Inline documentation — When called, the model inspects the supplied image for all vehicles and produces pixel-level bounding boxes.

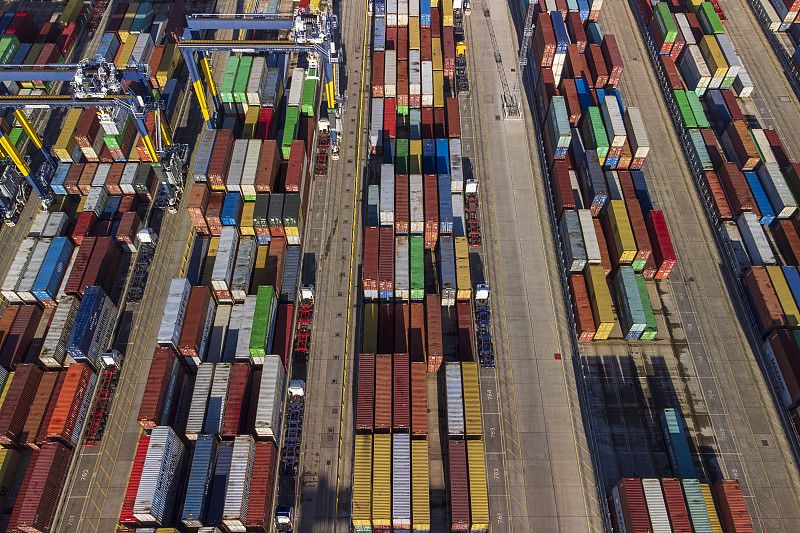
[123,227,159,304]
[291,278,316,363]
[313,115,331,175]
[473,283,496,369]
[463,178,483,247]
[277,381,305,484]
[454,41,469,91]
[271,505,294,533]
[80,351,124,449]
[452,0,464,34]
[712,0,730,20]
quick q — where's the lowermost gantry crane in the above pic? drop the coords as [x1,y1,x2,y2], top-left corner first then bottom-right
[0,150,52,220]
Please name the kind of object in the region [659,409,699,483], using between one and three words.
shipping container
